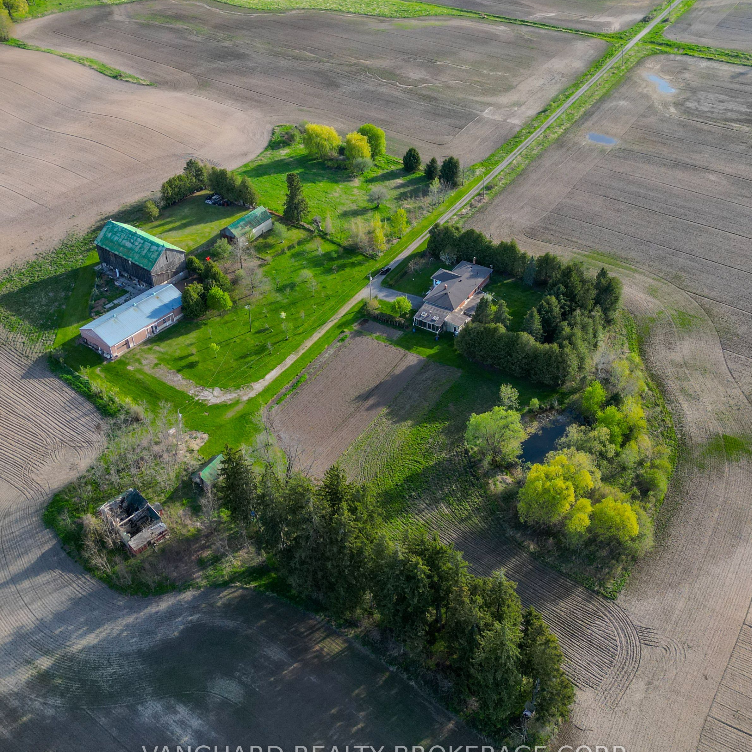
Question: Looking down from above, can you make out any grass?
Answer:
Yes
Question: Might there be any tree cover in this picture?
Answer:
Yes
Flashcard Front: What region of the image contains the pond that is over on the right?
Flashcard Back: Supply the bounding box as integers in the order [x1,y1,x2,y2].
[514,408,594,466]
